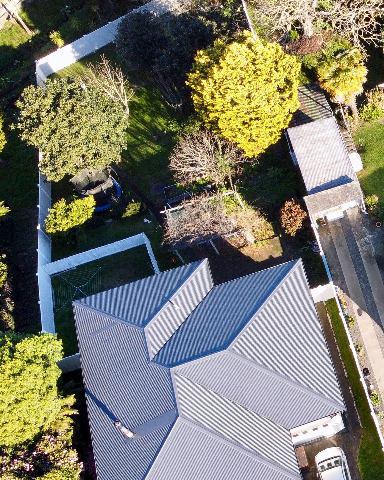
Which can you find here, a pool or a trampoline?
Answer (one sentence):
There is a trampoline in the scene.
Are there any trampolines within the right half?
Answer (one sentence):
No, looking within the right half, there is no trampoline.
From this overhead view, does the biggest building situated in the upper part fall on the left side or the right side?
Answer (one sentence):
You can find the biggest building situated in the upper part on the right side of the picture.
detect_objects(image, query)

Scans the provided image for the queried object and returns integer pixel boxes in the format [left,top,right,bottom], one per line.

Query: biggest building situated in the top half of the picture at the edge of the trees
[287,117,369,236]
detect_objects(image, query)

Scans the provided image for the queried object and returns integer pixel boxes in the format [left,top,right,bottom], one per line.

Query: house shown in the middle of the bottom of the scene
[66,256,349,480]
